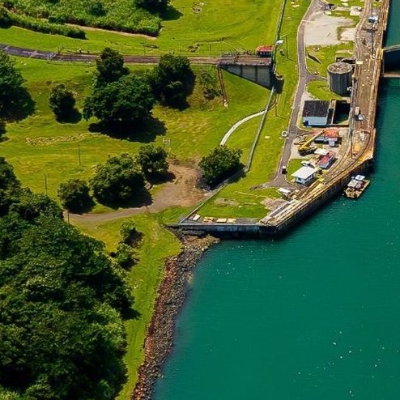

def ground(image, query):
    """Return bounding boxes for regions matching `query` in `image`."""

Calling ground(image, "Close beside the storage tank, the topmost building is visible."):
[303,99,330,127]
